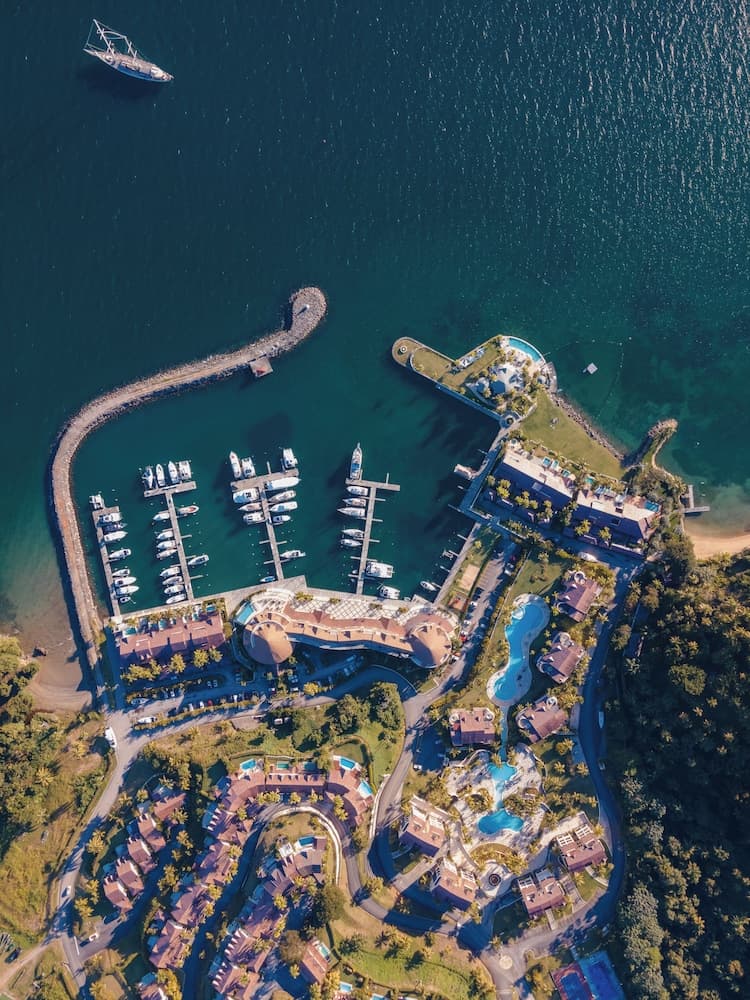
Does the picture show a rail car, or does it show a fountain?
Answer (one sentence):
Of the two, only a fountain appears.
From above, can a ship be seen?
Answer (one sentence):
Yes, the frame does contain a ship.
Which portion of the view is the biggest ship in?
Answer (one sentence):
The biggest ship is located in the top left region of the scene.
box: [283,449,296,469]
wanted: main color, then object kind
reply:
white boat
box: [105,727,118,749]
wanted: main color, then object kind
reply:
white vehicle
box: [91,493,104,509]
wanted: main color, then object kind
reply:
white boat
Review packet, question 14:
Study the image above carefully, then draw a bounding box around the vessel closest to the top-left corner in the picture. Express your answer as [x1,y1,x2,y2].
[81,22,167,84]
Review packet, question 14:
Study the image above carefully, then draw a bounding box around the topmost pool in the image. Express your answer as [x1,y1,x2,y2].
[507,338,545,368]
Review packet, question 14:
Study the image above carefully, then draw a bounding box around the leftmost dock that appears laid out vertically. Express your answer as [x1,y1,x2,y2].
[92,505,120,614]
